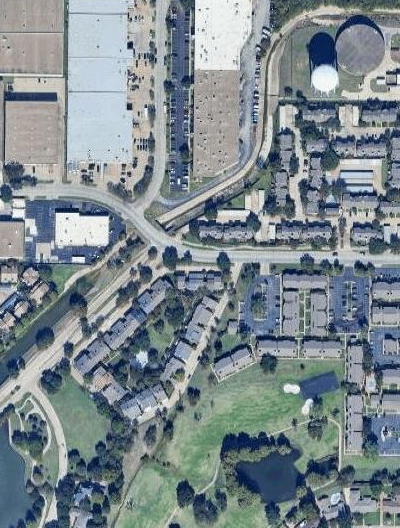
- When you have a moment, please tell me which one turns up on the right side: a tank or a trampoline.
tank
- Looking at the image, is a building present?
Yes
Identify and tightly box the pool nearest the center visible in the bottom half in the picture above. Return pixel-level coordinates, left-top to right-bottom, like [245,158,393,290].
[136,353,149,367]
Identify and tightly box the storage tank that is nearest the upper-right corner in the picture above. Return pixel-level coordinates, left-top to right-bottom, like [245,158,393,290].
[335,26,384,76]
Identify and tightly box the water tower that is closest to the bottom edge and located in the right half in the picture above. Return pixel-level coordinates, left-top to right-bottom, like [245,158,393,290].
[310,65,338,100]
